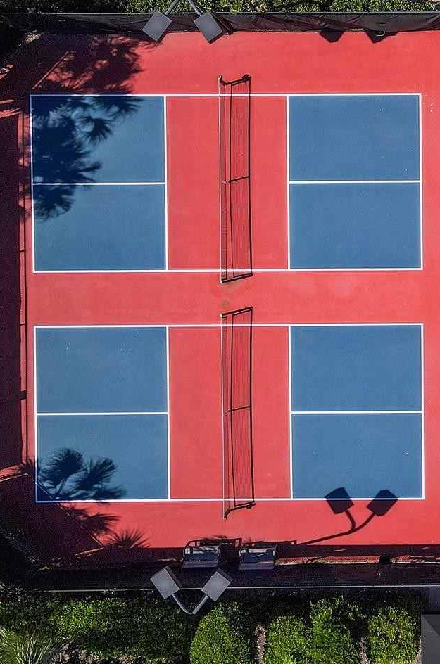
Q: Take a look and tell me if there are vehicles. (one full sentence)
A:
No, no vehicle is visible in the scene.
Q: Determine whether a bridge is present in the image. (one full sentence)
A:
No, I find no bridge anywhere in the image.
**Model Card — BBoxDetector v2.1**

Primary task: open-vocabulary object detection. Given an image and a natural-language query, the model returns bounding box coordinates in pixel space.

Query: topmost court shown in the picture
[31,92,422,273]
